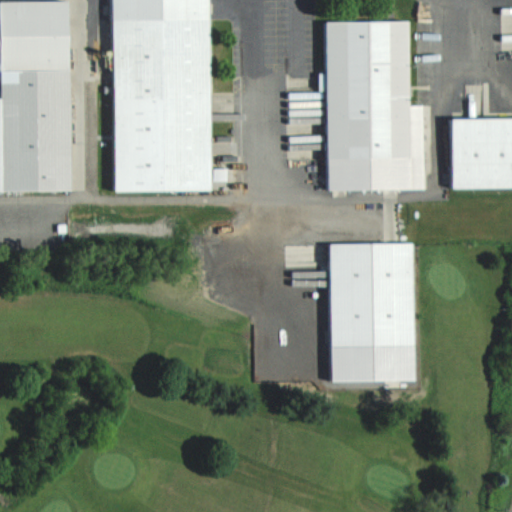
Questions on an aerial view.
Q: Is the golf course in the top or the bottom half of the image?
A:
bottom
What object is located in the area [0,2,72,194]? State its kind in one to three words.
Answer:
building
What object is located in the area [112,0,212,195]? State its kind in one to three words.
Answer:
building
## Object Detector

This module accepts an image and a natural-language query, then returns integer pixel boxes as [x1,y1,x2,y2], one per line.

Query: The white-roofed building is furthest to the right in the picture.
[450,118,512,191]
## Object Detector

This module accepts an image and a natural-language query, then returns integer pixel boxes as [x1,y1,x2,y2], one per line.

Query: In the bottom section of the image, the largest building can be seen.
[329,243,416,383]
